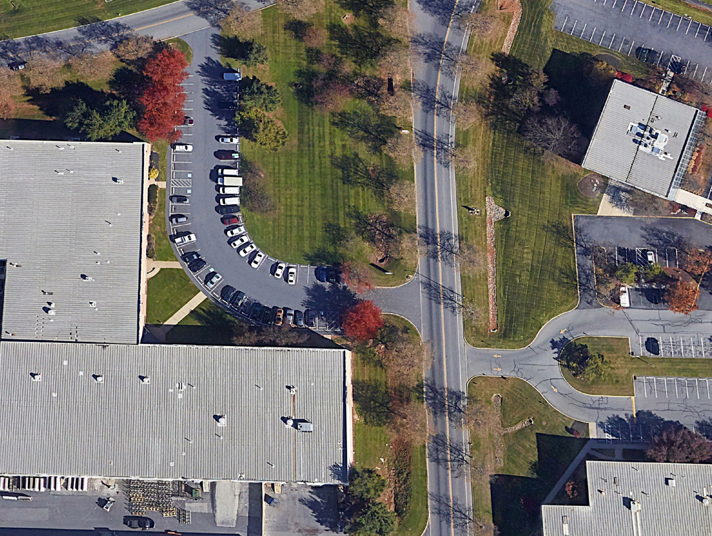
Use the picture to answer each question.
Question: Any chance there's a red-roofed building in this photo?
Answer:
No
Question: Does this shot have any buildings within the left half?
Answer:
Yes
